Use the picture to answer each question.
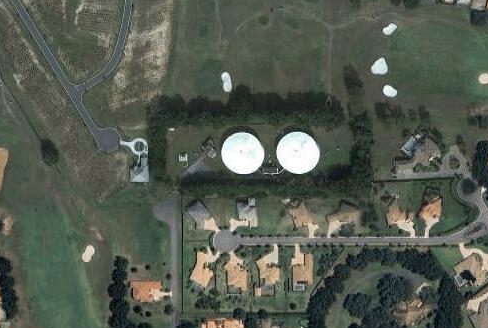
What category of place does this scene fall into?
golf course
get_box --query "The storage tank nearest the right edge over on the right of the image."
[276,132,319,175]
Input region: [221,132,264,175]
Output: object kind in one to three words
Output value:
storage tank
